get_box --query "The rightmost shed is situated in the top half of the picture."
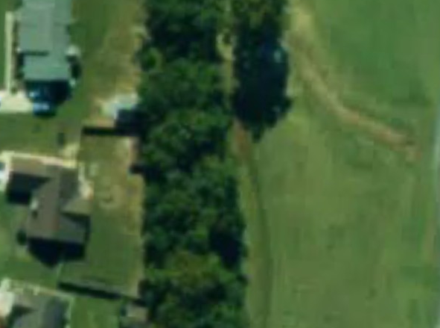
[114,109,134,133]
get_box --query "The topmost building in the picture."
[17,0,80,81]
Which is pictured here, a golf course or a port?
golf course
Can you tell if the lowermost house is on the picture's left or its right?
left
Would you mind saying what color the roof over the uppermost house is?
green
